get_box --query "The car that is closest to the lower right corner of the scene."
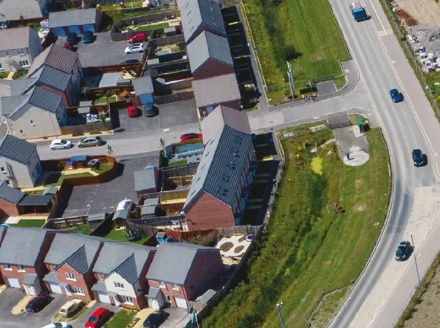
[393,235,411,258]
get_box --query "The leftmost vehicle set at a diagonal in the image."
[23,288,55,313]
